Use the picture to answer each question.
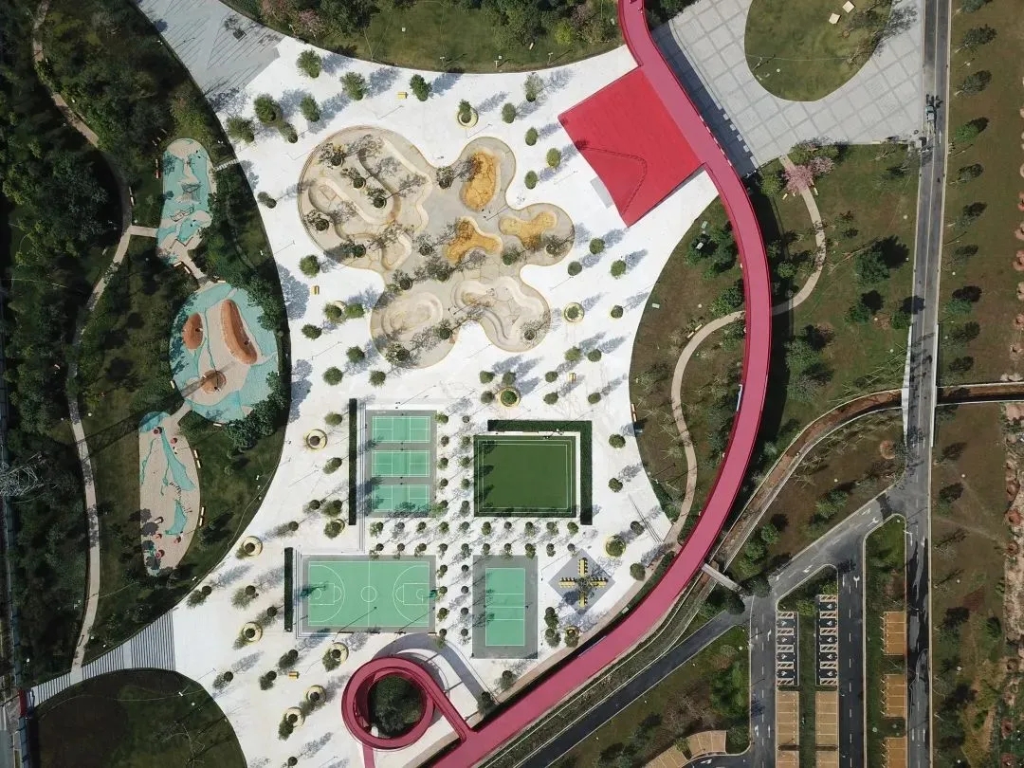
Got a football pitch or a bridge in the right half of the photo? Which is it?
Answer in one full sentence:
Visible in the right half of the photo is a bridge.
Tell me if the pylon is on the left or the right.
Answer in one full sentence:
You can find the pylon on the left side of the picture.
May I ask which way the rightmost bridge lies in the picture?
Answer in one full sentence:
The rightmost bridge is laid out up and down.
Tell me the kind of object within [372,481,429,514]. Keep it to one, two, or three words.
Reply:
sports court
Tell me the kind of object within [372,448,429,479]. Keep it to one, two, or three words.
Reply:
sports court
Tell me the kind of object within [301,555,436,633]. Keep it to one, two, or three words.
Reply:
basketball court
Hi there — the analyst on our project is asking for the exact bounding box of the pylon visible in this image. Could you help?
[0,455,48,492]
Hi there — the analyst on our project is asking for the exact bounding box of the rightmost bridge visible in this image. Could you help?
[904,324,940,447]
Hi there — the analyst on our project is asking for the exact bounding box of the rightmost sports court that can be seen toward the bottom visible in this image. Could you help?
[473,555,538,659]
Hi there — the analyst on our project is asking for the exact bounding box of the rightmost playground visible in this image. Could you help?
[299,126,574,367]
